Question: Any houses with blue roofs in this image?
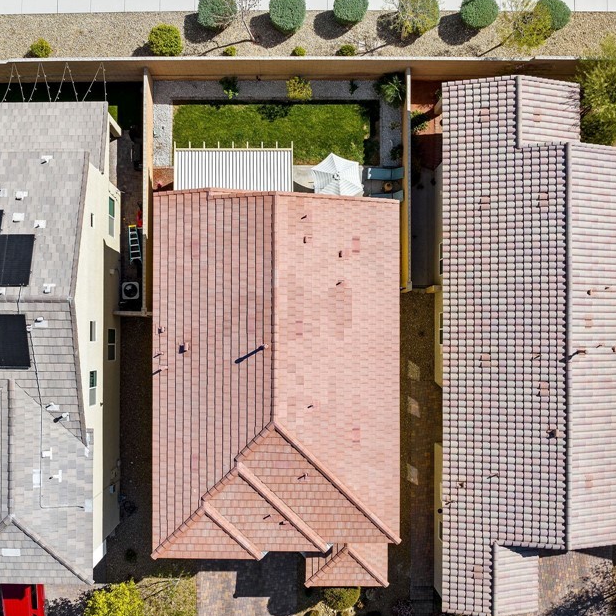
No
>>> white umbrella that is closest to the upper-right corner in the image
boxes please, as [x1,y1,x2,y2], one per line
[311,149,362,195]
